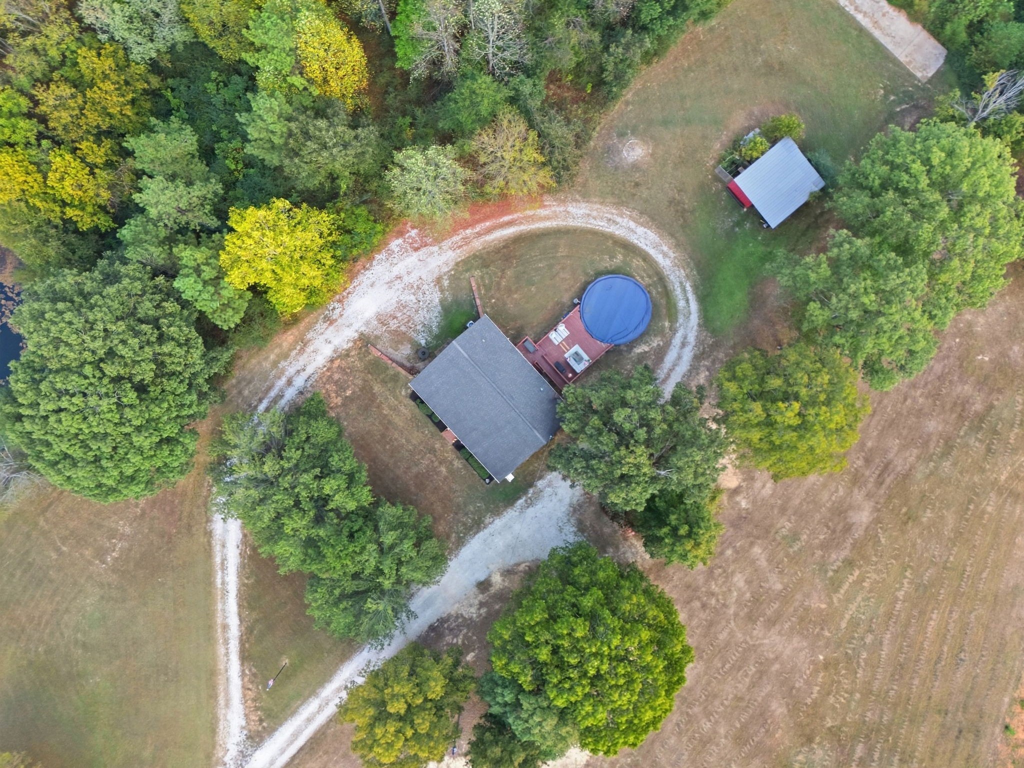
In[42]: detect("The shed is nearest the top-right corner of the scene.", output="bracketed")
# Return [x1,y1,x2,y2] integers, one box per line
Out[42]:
[732,136,823,232]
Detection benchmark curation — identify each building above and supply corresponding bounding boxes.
[409,313,572,483]
[732,136,823,232]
